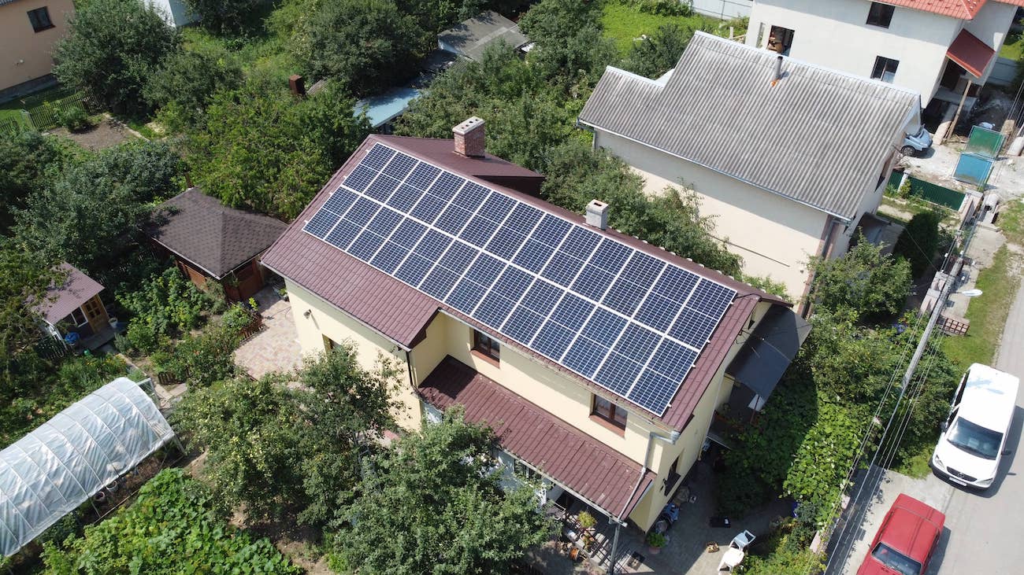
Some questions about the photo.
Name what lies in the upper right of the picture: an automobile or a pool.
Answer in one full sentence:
There is an automobile in the upper right of the picture.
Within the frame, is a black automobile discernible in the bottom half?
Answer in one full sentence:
No, in the bottom half there is no black automobile.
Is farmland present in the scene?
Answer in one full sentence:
No, the picture contains no farmland.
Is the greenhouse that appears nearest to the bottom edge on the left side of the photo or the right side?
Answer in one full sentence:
The greenhouse that appears nearest to the bottom edge sits on the left side.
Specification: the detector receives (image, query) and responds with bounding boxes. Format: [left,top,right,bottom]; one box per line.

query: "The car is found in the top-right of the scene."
[902,131,934,157]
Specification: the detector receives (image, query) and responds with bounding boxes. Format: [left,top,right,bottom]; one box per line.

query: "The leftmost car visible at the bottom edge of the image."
[856,491,946,575]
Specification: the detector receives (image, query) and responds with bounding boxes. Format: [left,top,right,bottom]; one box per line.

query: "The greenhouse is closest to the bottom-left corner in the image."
[0,371,183,575]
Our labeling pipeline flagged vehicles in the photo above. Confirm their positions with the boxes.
[856,491,946,575]
[926,359,1021,486]
[902,131,934,157]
